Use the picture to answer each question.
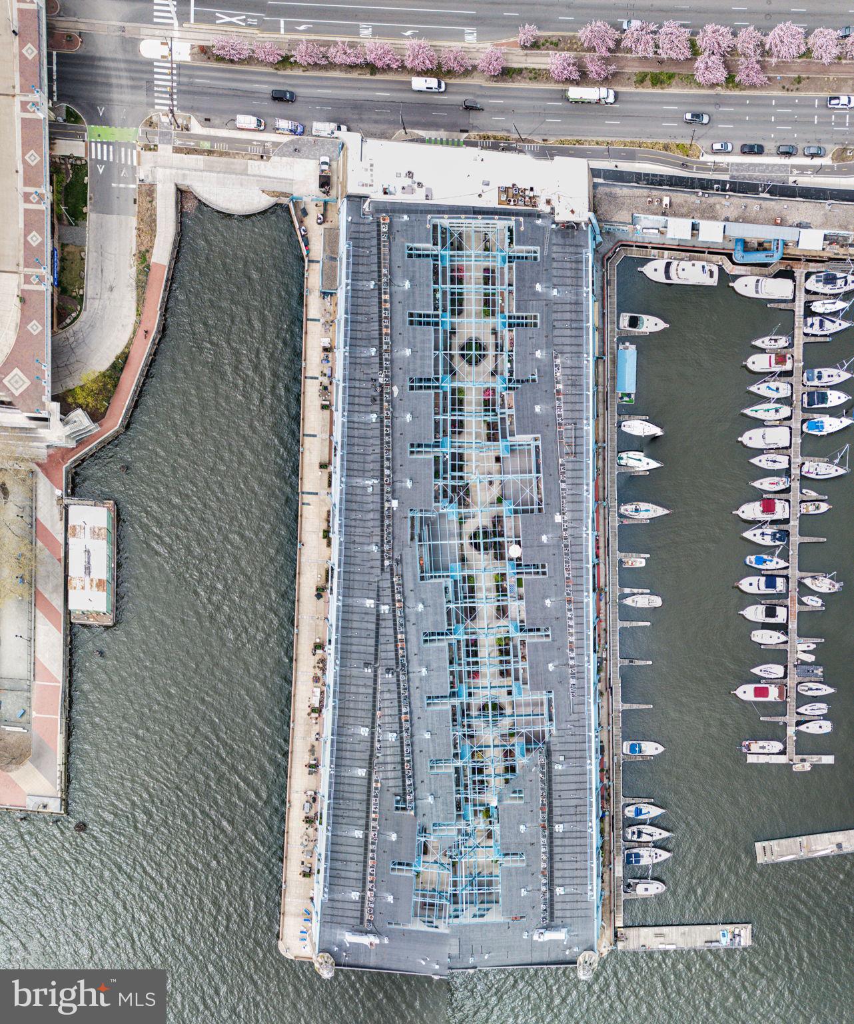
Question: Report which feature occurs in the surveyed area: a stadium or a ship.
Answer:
ship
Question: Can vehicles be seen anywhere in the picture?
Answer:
Yes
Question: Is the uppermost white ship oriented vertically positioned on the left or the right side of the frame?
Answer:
left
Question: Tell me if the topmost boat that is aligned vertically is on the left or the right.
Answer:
right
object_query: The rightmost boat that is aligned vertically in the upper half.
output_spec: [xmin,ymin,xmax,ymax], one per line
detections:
[618,340,639,403]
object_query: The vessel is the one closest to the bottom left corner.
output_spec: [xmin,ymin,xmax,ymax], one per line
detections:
[63,495,118,626]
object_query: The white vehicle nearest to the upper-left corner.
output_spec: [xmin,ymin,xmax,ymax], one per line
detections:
[233,111,264,128]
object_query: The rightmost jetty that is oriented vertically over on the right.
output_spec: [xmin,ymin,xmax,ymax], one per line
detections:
[785,268,808,764]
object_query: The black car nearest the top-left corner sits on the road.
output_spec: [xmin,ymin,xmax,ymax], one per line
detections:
[270,87,294,101]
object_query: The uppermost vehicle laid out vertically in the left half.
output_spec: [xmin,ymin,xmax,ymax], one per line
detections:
[317,154,330,196]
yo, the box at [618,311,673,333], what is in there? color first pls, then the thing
white boat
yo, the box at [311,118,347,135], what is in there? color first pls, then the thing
white vehicle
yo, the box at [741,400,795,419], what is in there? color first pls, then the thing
white boat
